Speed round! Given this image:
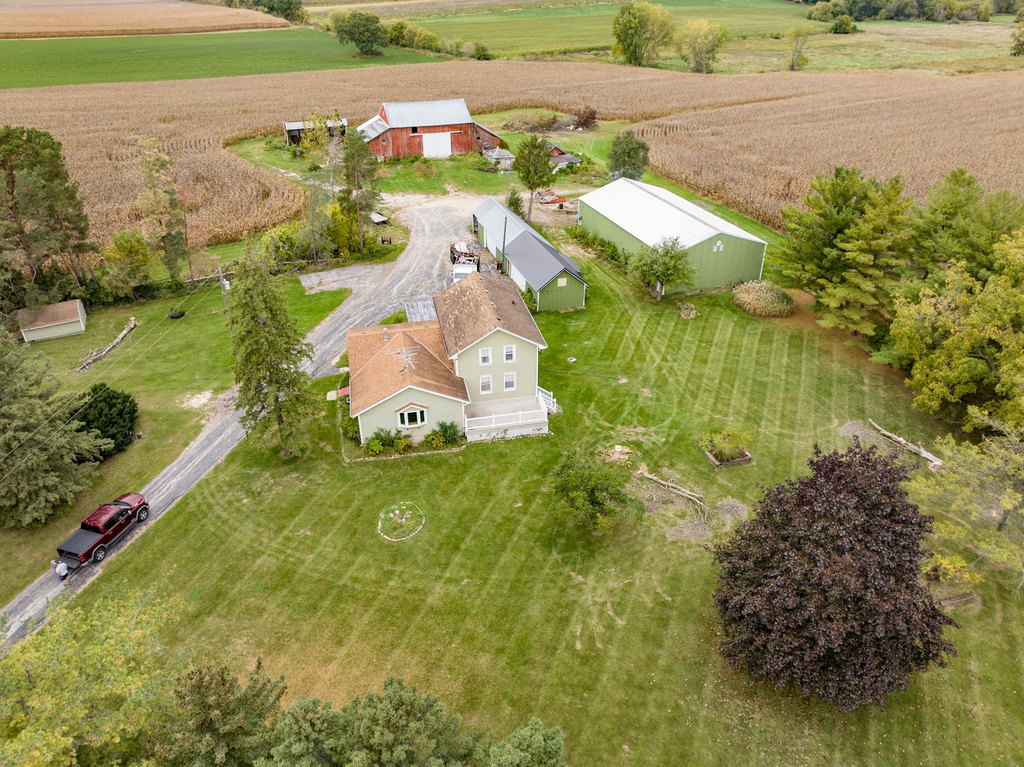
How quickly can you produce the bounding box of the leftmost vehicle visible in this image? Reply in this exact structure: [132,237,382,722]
[50,494,153,576]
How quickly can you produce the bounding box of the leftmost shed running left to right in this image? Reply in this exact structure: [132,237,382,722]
[15,302,86,342]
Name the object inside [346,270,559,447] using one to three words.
house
